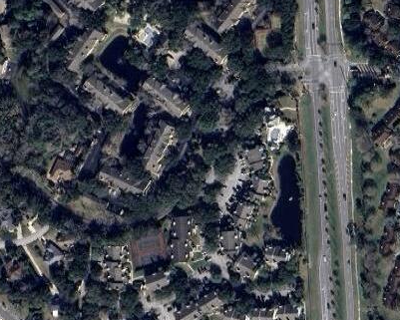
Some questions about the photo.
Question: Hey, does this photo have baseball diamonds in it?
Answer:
No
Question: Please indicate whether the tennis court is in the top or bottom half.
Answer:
bottom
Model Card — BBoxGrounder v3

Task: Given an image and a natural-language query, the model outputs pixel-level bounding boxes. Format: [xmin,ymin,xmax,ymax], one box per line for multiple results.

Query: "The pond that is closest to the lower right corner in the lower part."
[272,152,302,248]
